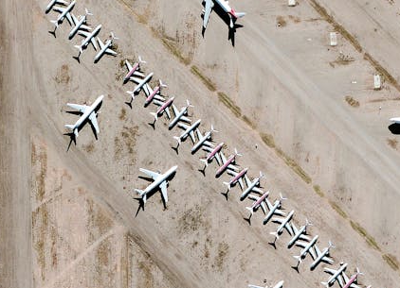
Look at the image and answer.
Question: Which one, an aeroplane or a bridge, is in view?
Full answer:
It is an aeroplane that can be seen here.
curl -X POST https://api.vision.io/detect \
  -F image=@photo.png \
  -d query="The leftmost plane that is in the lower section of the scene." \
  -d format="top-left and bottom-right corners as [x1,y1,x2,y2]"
[134,166,177,202]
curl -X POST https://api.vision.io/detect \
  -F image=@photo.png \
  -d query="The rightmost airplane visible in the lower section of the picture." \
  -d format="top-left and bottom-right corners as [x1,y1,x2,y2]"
[343,268,365,288]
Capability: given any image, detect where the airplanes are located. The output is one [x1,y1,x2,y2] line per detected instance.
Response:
[65,96,103,136]
[170,100,194,128]
[124,55,146,84]
[290,219,312,246]
[194,125,219,152]
[201,143,223,165]
[50,0,75,26]
[218,149,243,176]
[246,192,269,213]
[150,98,174,120]
[173,120,201,143]
[294,236,319,262]
[134,166,177,202]
[48,0,70,10]
[96,32,119,60]
[322,264,348,288]
[71,8,93,36]
[242,172,266,199]
[311,241,335,269]
[202,0,247,27]
[126,73,153,98]
[270,211,294,238]
[223,168,248,189]
[146,80,168,105]
[343,268,365,288]
[75,26,100,52]
[265,193,288,221]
